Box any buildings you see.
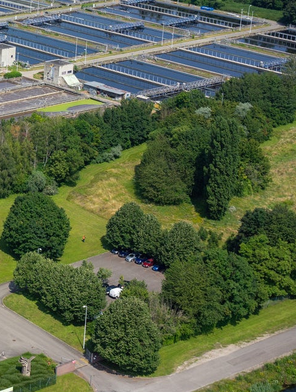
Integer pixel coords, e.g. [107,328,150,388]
[85,82,127,96]
[46,58,82,84]
[0,42,17,64]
